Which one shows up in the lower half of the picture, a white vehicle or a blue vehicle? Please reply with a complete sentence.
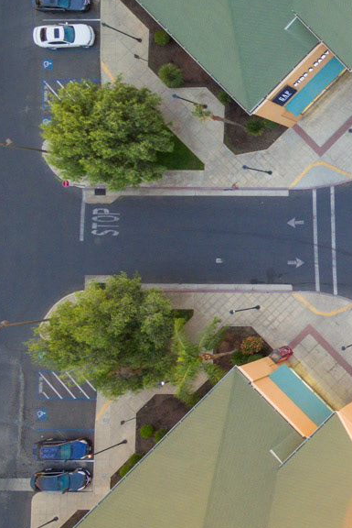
The feature located in the lower half of the picture is a blue vehicle.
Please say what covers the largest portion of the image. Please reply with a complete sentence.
Most of the picture is covered by paved ground.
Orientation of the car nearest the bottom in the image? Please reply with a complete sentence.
I'd say the car nearest the bottom is aligned from side to side in the picture.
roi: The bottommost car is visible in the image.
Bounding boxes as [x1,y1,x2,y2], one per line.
[34,465,96,494]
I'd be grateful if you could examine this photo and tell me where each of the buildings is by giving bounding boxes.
[71,354,352,528]
[138,0,352,128]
